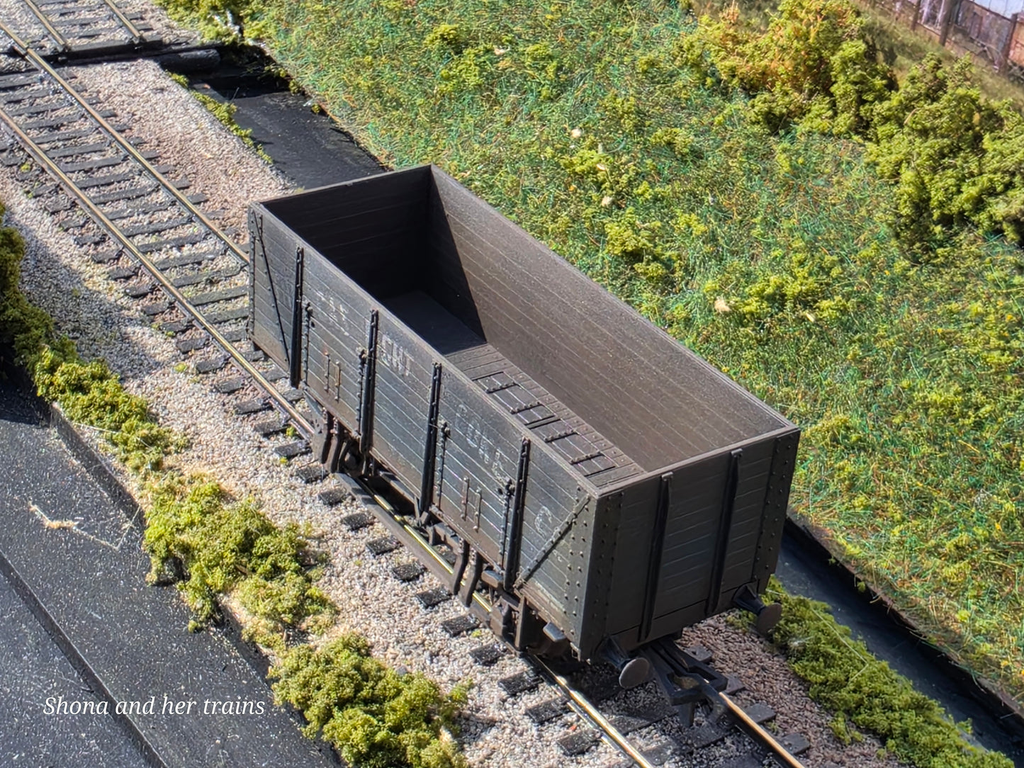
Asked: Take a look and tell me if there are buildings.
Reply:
No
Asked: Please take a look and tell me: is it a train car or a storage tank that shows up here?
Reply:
train car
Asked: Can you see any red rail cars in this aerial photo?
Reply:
No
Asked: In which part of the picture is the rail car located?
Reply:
center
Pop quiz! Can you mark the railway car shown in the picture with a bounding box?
[246,166,798,722]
